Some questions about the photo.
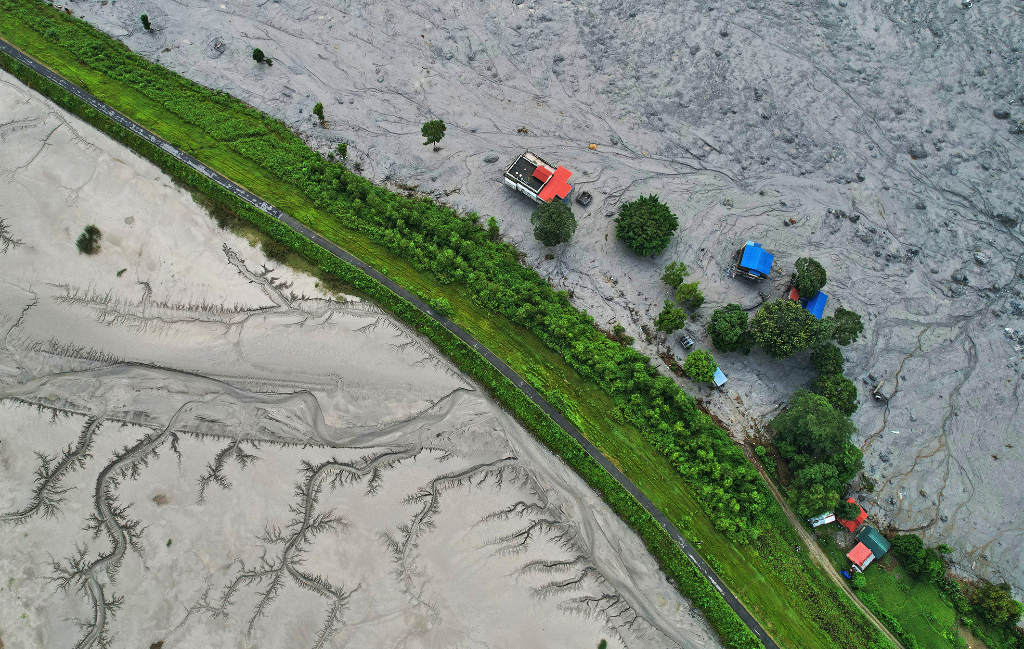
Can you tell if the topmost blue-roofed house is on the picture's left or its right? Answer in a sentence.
The topmost blue-roofed house is on the right side of the image.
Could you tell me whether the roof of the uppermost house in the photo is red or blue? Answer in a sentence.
In this view, the roof of the uppermost house is red.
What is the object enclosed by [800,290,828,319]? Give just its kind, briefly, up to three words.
house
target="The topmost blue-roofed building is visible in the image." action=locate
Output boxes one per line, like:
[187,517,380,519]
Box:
[734,241,774,283]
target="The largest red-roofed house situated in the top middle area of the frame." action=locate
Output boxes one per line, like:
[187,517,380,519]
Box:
[502,149,573,205]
